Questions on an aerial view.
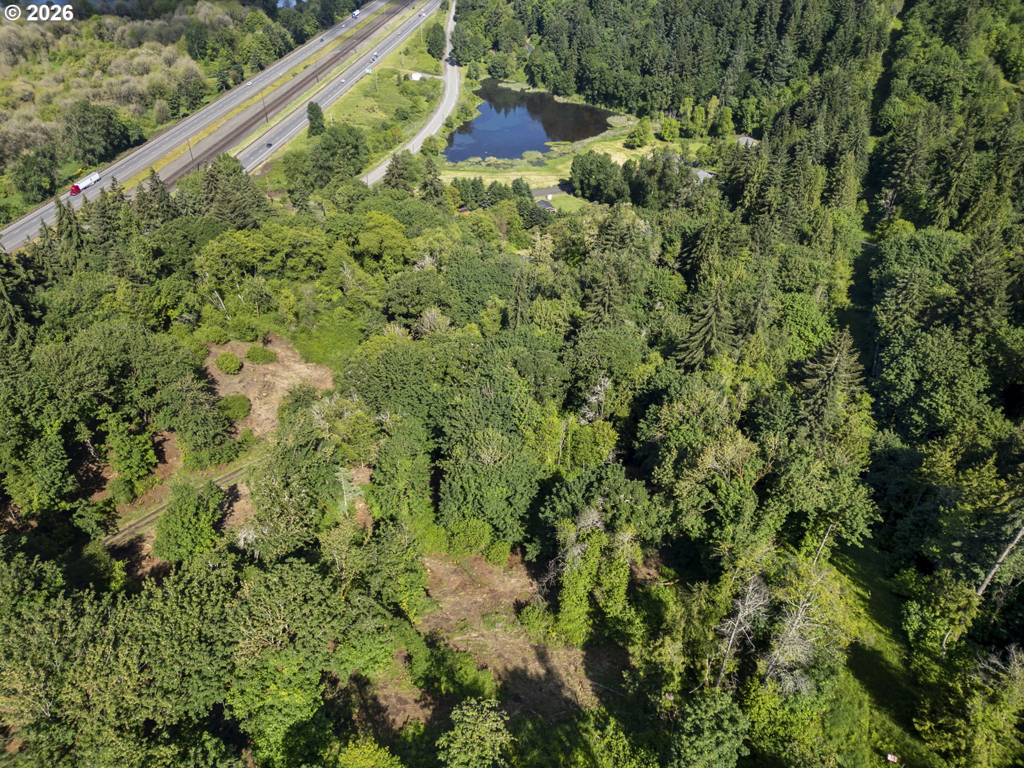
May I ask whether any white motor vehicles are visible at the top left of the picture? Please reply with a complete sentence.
Yes, a white motor vehicle shows up at the top left of the picture.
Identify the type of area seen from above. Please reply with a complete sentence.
The area seen from above is a forest.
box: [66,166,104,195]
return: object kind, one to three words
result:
truck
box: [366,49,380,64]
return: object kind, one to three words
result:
vehicle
